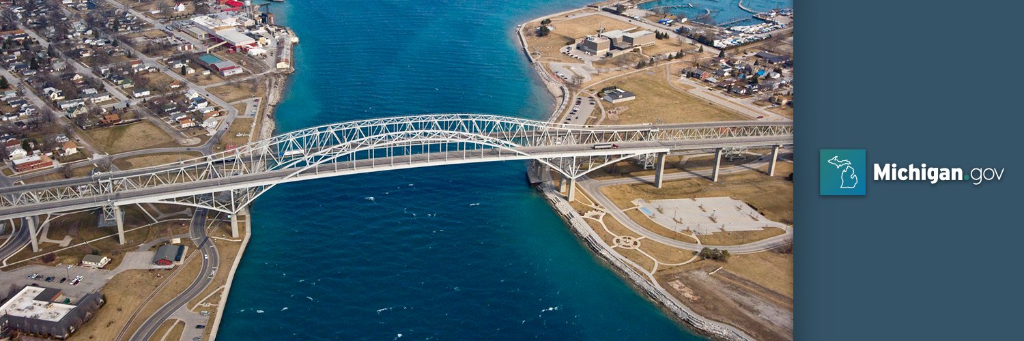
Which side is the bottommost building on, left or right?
left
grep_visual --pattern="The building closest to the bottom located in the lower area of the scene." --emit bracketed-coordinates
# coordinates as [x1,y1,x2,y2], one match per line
[0,283,105,337]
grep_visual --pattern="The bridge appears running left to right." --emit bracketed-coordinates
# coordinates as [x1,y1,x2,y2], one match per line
[0,123,1024,254]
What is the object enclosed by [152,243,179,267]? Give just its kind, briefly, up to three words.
building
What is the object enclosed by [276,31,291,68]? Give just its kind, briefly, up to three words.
building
